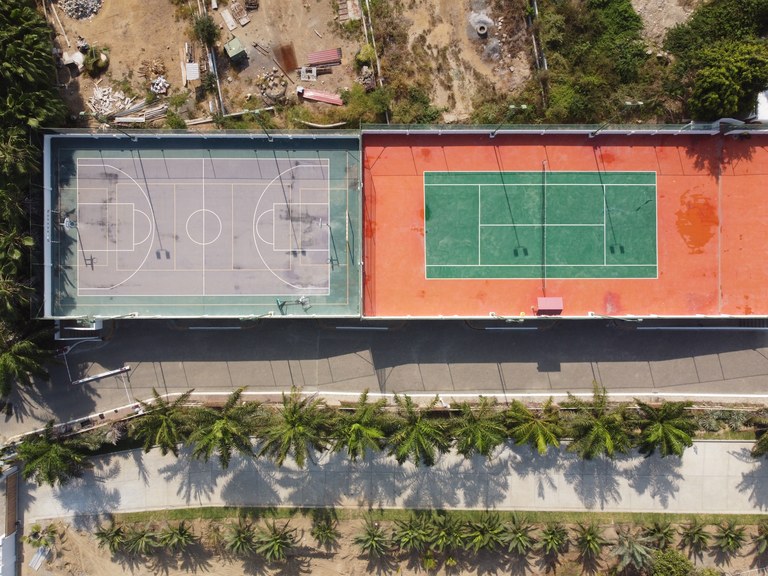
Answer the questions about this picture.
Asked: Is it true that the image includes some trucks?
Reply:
No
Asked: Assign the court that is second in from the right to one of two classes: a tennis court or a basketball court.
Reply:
tennis court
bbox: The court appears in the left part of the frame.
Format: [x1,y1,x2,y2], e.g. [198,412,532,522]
[50,138,358,315]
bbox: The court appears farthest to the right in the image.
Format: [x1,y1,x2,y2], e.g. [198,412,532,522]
[720,134,768,316]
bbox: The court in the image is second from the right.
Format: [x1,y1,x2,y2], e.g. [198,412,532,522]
[362,134,718,316]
